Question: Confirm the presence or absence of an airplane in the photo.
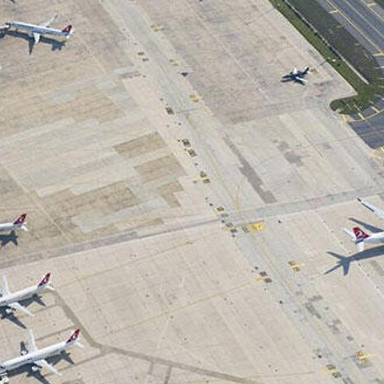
Yes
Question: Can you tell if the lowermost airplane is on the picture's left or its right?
left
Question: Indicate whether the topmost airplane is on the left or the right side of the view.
left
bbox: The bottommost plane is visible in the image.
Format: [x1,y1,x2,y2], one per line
[0,330,84,376]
